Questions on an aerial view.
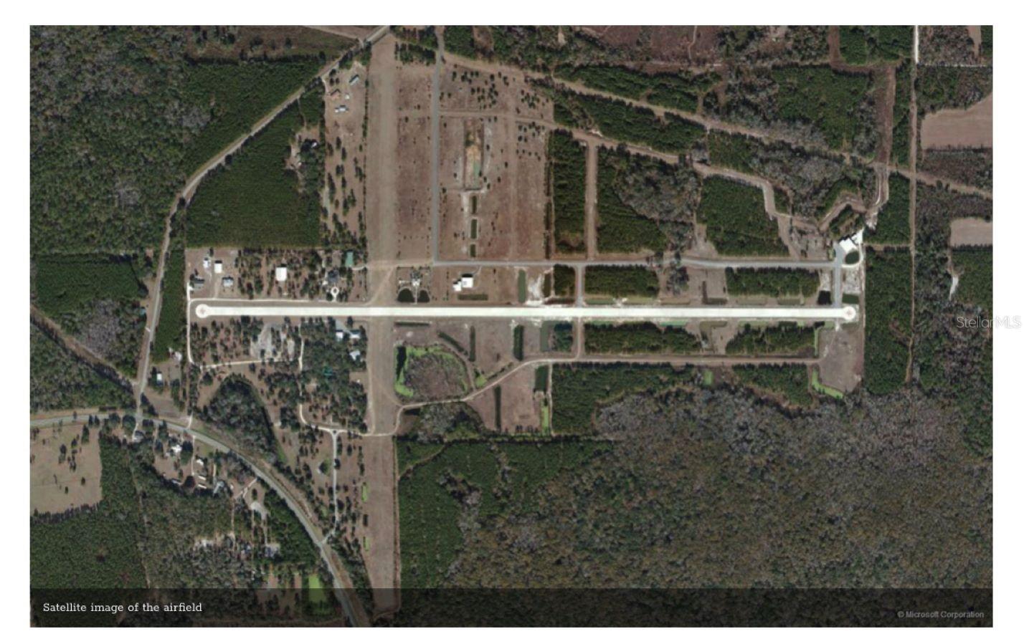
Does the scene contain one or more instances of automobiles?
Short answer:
No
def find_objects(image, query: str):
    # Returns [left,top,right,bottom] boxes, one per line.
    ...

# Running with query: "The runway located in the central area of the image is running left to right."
[195,304,856,320]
